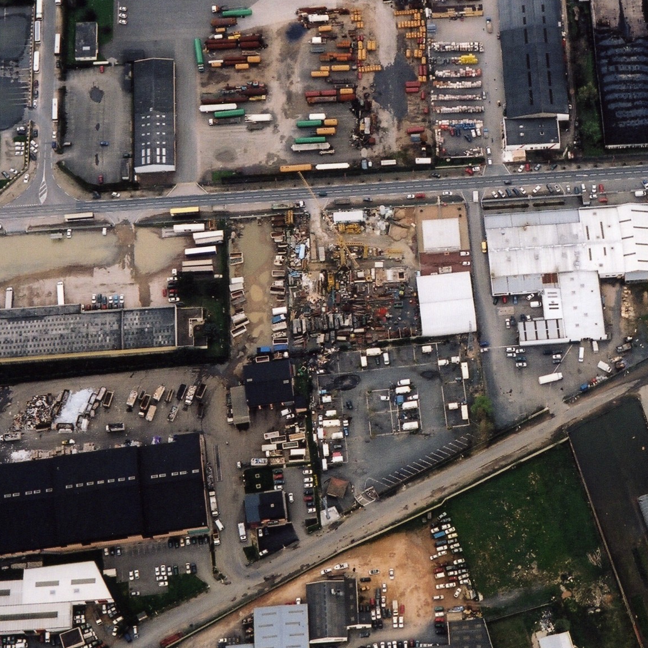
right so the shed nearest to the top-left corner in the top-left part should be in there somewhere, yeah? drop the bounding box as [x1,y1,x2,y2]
[75,21,99,61]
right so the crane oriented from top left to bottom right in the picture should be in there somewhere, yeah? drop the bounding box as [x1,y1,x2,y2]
[298,171,363,272]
